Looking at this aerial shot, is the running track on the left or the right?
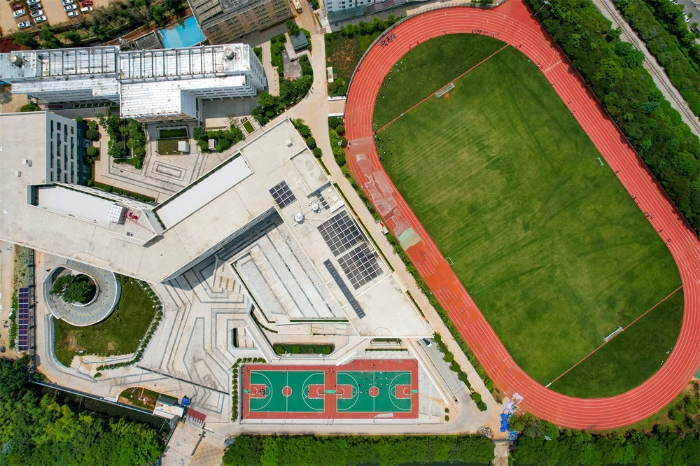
right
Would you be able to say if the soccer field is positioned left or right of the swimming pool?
right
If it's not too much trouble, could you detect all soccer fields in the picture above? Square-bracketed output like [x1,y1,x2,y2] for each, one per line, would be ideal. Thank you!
[374,31,684,395]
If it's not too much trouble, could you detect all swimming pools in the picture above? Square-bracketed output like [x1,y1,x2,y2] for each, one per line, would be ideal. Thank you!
[157,15,206,47]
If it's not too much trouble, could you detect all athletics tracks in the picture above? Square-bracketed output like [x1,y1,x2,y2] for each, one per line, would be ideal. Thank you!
[344,0,700,425]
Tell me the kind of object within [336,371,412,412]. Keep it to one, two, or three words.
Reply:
basketball court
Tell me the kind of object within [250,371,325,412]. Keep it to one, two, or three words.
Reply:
basketball court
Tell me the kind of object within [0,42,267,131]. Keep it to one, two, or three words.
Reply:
building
